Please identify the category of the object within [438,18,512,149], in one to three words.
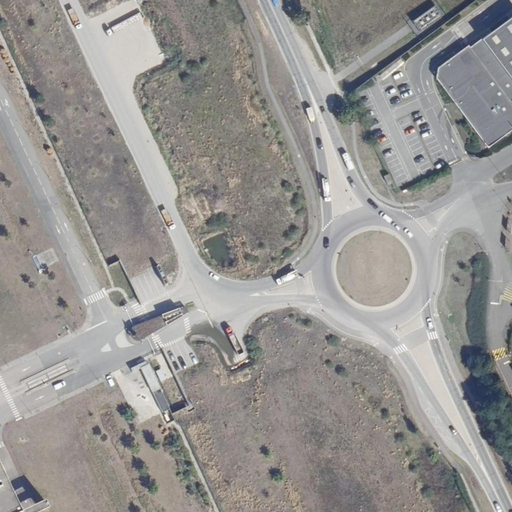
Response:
building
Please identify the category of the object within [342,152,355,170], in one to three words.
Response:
vehicle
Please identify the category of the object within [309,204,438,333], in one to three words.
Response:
roundabout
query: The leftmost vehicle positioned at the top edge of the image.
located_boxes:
[67,8,80,28]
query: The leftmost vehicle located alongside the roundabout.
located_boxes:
[278,270,298,284]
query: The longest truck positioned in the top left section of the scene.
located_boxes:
[106,12,140,36]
